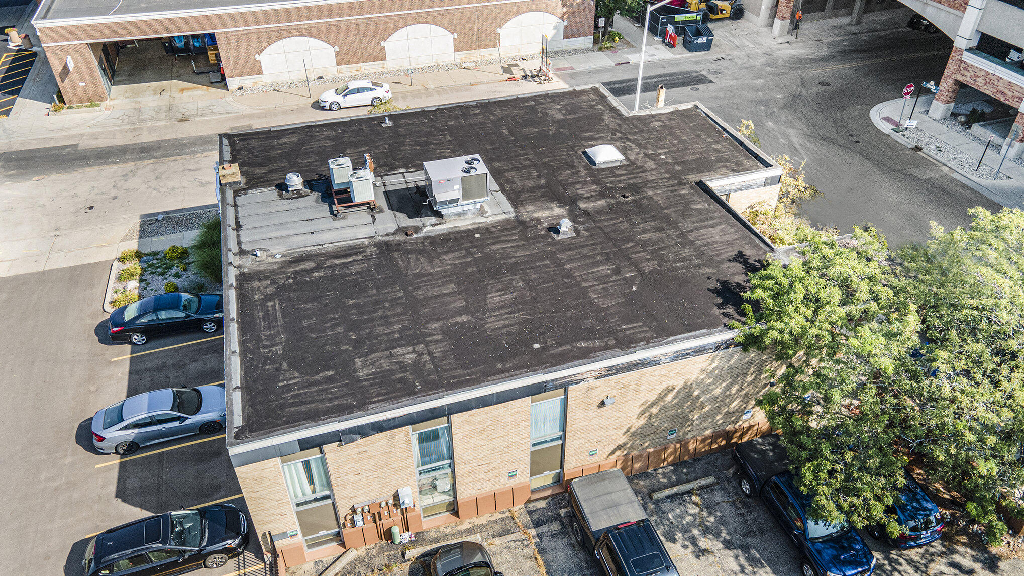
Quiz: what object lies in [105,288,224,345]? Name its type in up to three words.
car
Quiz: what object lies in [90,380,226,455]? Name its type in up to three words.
car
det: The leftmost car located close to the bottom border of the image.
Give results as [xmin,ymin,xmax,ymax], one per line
[70,495,250,576]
